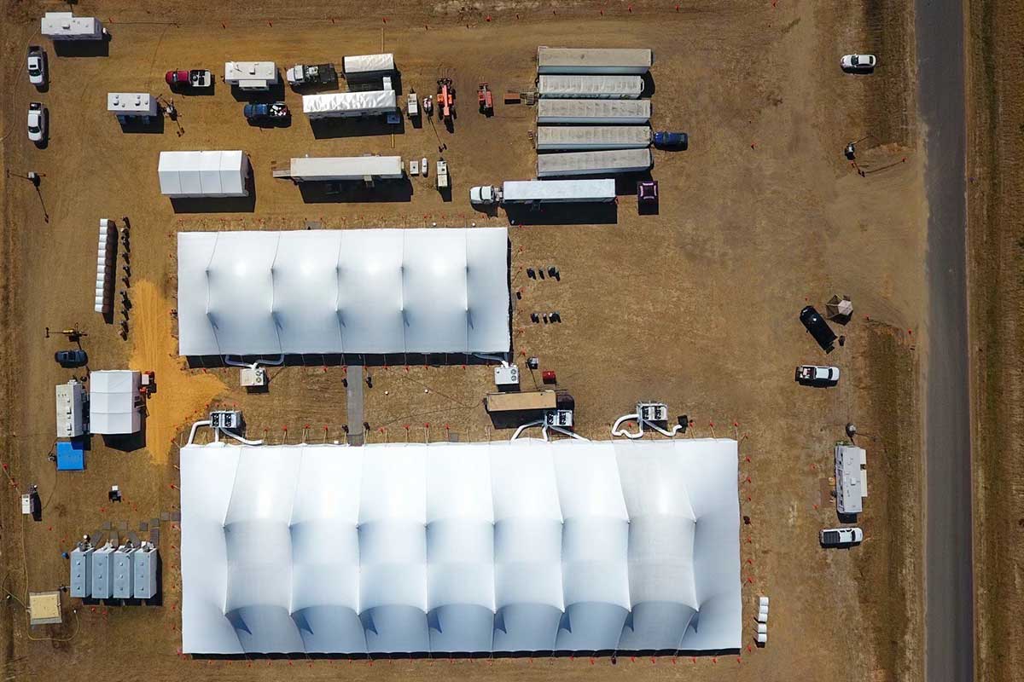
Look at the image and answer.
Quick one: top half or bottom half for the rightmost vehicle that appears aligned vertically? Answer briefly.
bottom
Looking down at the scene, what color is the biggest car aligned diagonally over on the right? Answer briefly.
black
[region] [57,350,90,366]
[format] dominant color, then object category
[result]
black car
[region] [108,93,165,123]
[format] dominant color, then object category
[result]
white trailer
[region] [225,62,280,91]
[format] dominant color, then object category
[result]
white vehicle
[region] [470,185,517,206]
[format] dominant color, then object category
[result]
white truck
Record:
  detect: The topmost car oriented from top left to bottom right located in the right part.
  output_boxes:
[797,307,835,351]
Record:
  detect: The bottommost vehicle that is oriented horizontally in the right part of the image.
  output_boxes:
[818,527,861,545]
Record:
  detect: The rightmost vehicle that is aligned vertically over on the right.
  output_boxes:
[832,437,867,512]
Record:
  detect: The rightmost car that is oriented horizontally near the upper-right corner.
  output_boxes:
[839,54,874,71]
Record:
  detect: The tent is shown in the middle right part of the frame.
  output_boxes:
[822,293,848,321]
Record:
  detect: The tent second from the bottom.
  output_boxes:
[90,371,140,434]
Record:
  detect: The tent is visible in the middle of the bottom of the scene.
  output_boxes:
[173,425,746,663]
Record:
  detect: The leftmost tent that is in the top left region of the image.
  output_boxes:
[158,151,248,197]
